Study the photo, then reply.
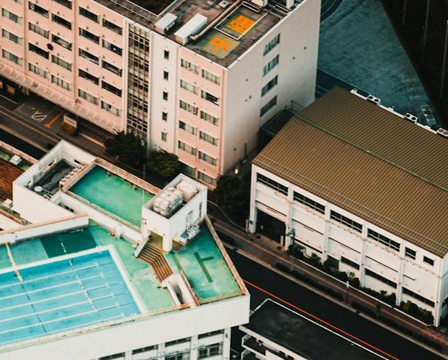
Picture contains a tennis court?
No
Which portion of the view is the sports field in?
top right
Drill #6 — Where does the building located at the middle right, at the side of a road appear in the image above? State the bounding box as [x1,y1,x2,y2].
[248,87,448,326]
